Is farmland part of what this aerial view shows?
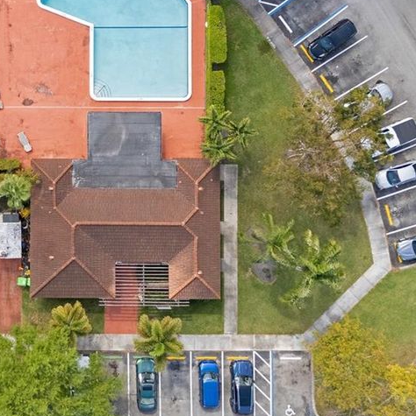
No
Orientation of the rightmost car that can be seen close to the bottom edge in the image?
vertically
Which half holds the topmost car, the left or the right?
right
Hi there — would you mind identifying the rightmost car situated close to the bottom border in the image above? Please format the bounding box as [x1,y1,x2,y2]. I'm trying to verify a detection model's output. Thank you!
[227,357,255,415]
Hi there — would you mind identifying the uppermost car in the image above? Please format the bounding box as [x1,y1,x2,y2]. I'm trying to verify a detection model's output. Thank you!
[303,18,360,62]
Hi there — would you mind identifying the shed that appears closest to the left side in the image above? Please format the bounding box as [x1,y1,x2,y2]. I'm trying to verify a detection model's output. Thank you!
[0,213,21,259]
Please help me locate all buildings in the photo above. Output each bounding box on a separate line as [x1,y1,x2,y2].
[29,110,222,307]
[0,213,21,259]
